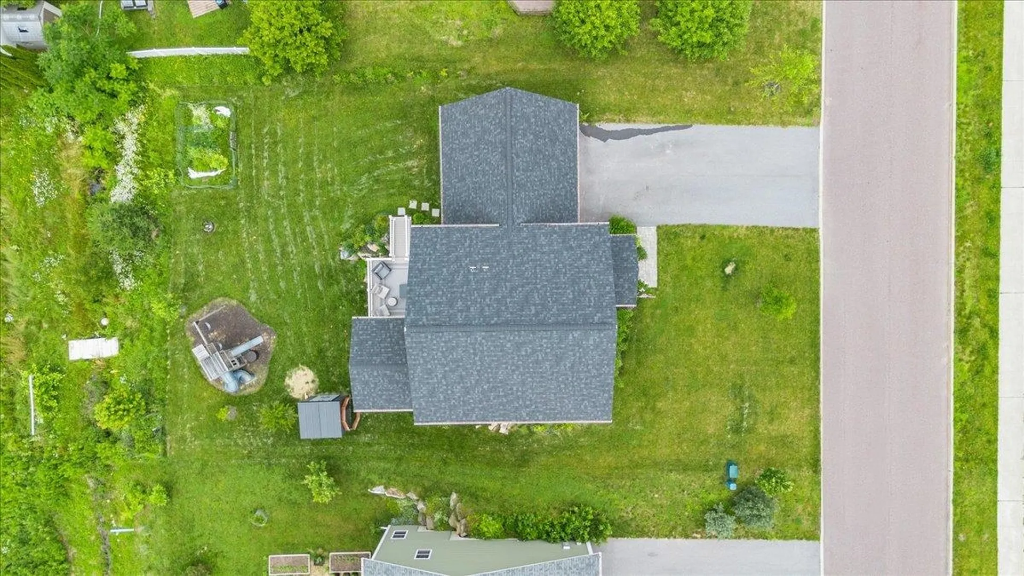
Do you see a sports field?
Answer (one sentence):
No, the frame has no sports field in it.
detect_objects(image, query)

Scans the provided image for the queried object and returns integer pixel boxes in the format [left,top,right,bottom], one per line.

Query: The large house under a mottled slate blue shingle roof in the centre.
[348,85,639,428]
